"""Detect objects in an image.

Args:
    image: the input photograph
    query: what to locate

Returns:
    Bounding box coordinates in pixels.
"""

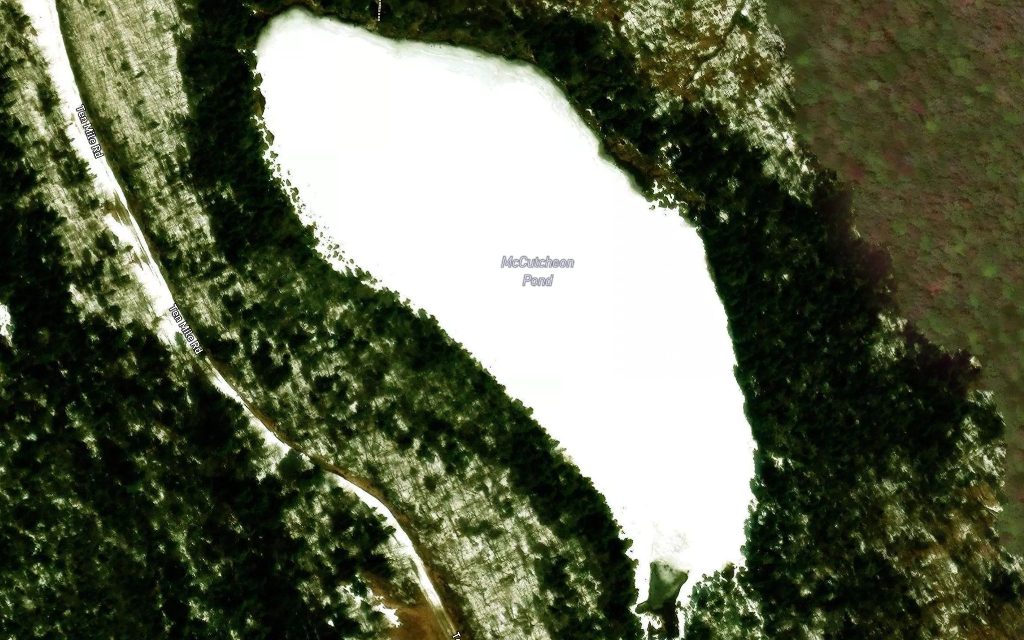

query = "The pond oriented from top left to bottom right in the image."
[255,8,756,640]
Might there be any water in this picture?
Yes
